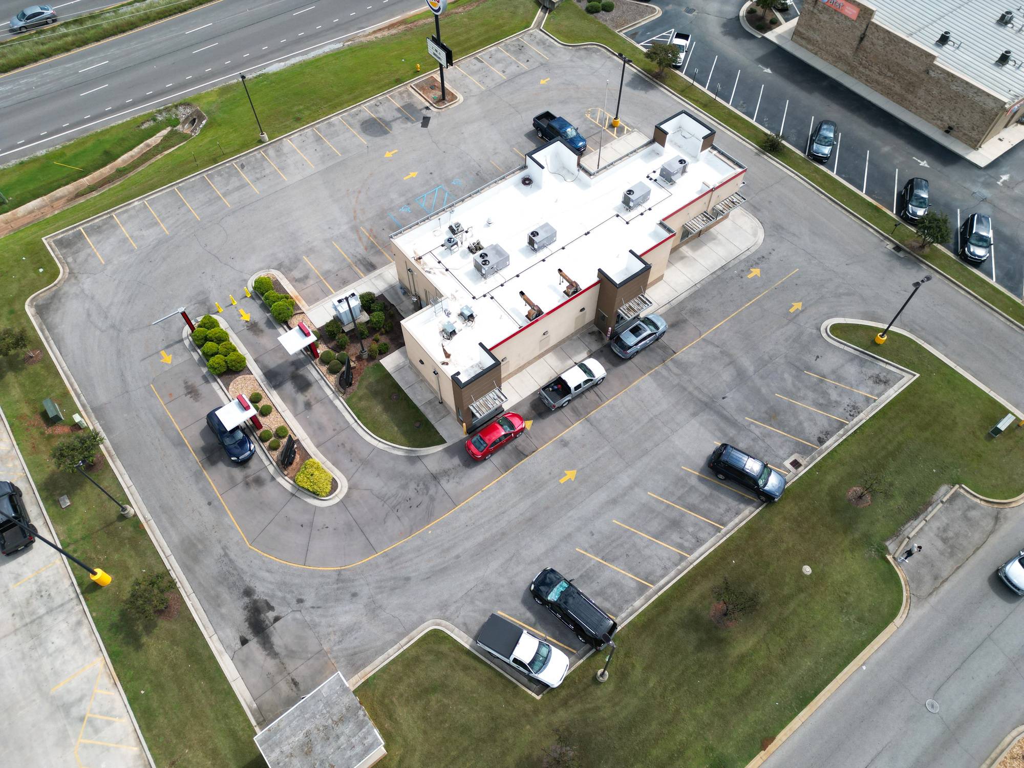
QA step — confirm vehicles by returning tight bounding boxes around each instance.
[529,568,624,658]
[997,535,1024,592]
[204,399,251,460]
[667,31,691,66]
[470,610,572,694]
[609,313,670,361]
[538,356,610,413]
[461,410,528,464]
[810,117,839,159]
[530,110,584,151]
[710,445,787,505]
[899,174,932,220]
[8,6,59,31]
[963,211,999,261]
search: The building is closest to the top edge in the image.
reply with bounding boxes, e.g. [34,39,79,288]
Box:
[792,0,1024,148]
